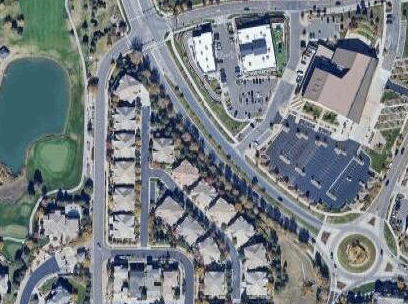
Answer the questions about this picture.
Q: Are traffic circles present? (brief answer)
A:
Yes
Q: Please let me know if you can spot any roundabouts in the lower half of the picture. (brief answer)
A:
Yes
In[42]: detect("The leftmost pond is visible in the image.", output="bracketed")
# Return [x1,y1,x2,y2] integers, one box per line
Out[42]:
[0,58,68,178]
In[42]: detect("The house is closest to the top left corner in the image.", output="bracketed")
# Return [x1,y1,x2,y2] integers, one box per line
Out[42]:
[111,73,143,104]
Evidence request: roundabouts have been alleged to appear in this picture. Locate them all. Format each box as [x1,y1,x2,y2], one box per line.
[318,211,397,293]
